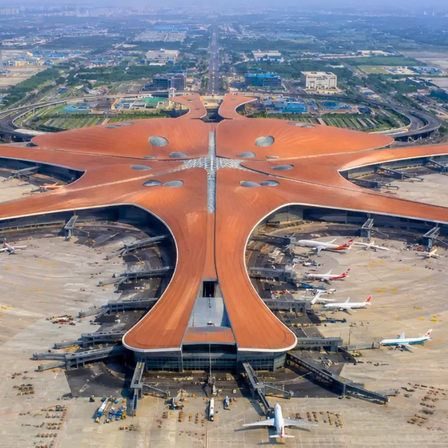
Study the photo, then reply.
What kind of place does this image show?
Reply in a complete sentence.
It's an airport.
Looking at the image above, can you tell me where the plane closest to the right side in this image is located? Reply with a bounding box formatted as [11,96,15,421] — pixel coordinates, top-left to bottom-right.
[418,244,448,262]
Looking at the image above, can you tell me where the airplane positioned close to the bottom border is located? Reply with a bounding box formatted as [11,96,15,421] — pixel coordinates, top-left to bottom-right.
[244,399,317,440]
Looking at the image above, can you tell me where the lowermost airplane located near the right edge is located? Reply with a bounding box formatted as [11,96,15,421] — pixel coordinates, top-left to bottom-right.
[381,328,431,352]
